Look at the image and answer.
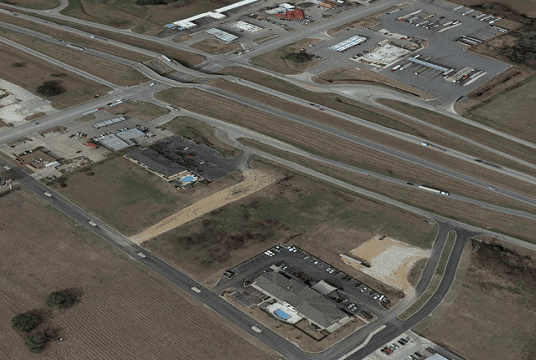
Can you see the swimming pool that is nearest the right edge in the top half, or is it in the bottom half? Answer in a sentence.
Seen from above, the swimming pool that is nearest the right edge lies in the bottom half of the view.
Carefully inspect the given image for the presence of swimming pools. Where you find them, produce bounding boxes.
[174,172,202,188]
[267,303,301,323]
